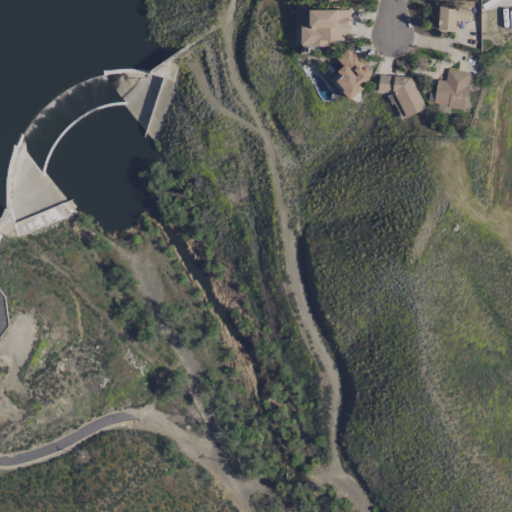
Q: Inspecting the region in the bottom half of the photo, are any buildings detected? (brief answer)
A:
No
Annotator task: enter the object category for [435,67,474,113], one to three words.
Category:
house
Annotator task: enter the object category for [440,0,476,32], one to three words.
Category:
house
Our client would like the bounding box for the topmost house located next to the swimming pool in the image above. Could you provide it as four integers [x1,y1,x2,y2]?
[302,9,352,47]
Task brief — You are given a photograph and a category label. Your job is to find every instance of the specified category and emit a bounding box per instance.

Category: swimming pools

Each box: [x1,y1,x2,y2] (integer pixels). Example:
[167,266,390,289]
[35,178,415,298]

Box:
[312,65,334,101]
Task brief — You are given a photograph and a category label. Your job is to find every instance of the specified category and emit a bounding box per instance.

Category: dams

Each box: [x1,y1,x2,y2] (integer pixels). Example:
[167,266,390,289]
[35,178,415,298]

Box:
[0,38,204,240]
